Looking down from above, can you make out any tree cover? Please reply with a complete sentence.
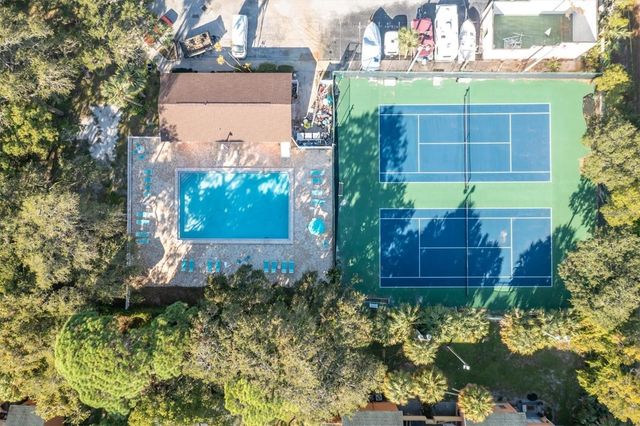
Yes, the picture does contain tree cover.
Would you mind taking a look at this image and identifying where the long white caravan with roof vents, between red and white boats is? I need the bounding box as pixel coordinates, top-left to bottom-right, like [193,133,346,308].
[436,2,458,63]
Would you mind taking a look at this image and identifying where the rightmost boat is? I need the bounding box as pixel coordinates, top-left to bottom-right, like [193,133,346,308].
[461,20,476,66]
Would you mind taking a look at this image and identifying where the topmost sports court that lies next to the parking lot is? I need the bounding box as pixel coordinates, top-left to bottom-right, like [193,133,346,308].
[482,0,599,59]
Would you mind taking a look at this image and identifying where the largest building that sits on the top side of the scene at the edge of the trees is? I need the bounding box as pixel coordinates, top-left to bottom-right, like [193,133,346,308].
[157,72,292,144]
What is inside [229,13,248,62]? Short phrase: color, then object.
white vehicle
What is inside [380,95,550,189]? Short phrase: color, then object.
blue tennis court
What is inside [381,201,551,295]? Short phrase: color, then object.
blue tennis court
